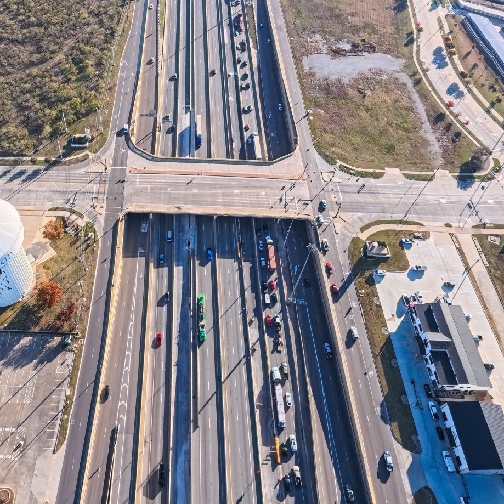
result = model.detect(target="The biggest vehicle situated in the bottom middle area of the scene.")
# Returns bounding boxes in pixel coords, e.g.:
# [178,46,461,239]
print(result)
[272,370,287,424]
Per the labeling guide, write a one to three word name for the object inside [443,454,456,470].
vehicle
